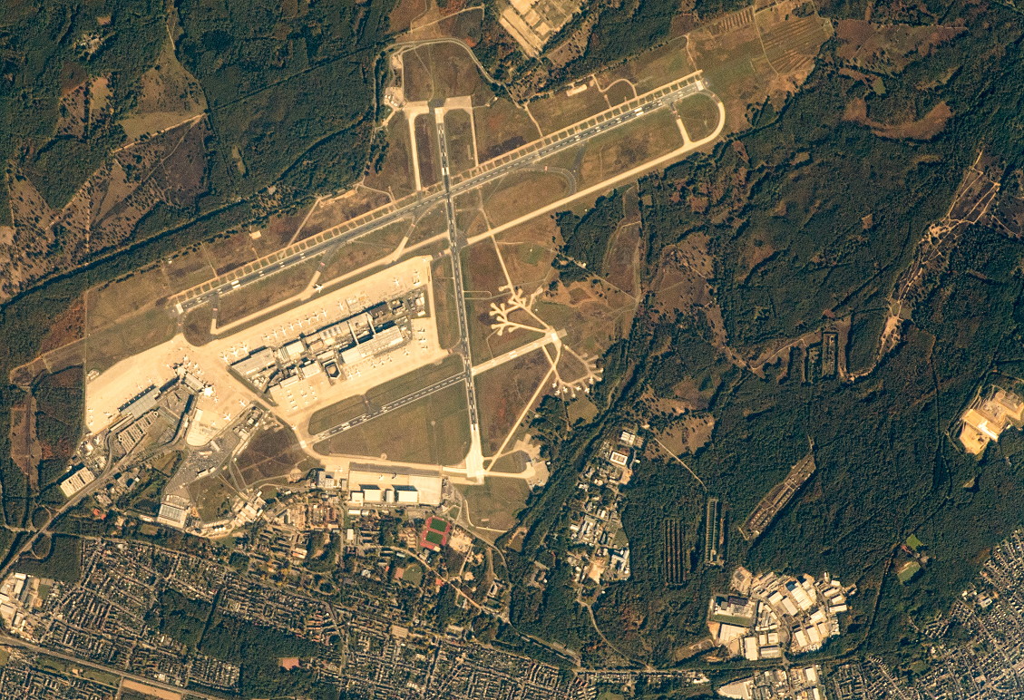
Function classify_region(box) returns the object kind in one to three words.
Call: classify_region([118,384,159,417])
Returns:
building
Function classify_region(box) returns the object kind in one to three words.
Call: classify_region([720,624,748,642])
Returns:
building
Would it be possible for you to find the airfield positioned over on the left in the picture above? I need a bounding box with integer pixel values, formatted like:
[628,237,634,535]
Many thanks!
[85,53,726,506]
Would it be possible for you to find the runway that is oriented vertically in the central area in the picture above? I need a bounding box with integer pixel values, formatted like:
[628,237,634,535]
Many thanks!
[435,107,484,485]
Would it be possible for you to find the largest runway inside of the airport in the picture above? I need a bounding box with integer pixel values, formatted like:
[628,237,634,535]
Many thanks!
[175,79,704,314]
